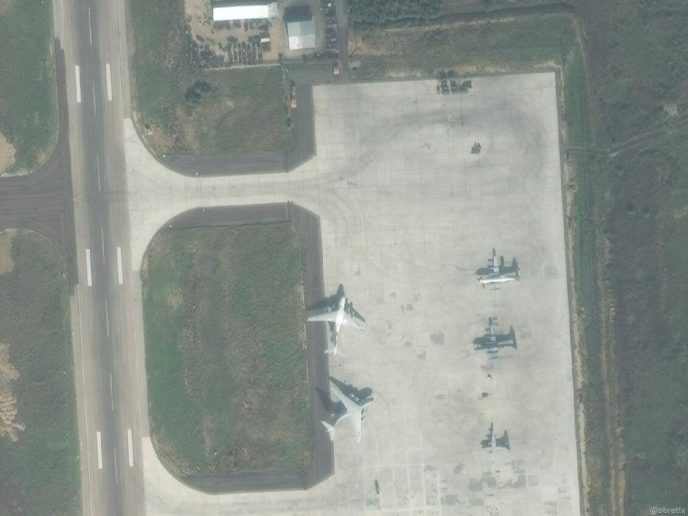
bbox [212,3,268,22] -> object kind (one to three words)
shed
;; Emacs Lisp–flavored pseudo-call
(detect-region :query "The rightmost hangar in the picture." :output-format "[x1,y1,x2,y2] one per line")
[287,20,315,49]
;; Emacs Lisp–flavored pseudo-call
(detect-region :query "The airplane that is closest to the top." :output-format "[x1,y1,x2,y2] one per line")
[480,257,521,303]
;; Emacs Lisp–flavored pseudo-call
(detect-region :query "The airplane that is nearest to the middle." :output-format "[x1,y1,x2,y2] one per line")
[308,296,369,353]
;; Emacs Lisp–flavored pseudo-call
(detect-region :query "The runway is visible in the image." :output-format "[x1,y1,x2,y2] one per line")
[53,0,150,516]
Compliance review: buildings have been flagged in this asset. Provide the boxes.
[212,3,268,22]
[287,20,315,49]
